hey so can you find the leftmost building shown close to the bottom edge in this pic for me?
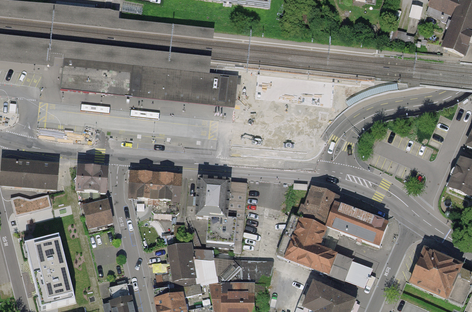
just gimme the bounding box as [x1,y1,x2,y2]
[24,232,76,312]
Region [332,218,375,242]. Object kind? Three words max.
solar panel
